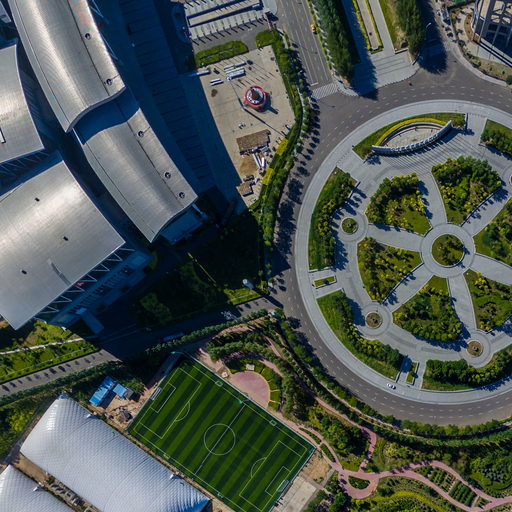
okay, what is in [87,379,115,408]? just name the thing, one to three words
building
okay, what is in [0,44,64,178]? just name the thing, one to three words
building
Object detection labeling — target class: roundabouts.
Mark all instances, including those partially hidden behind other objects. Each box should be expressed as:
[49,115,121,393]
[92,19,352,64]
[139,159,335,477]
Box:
[272,76,512,425]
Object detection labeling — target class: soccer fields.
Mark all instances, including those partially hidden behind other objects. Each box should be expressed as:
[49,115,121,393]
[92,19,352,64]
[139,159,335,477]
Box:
[124,352,315,512]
